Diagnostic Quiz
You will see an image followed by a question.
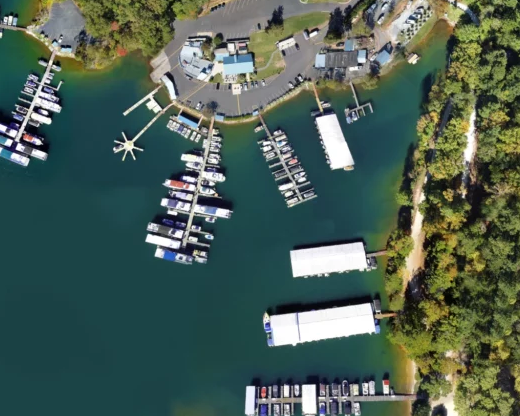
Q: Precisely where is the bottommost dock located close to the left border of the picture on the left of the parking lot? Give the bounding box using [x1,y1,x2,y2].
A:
[11,52,62,142]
